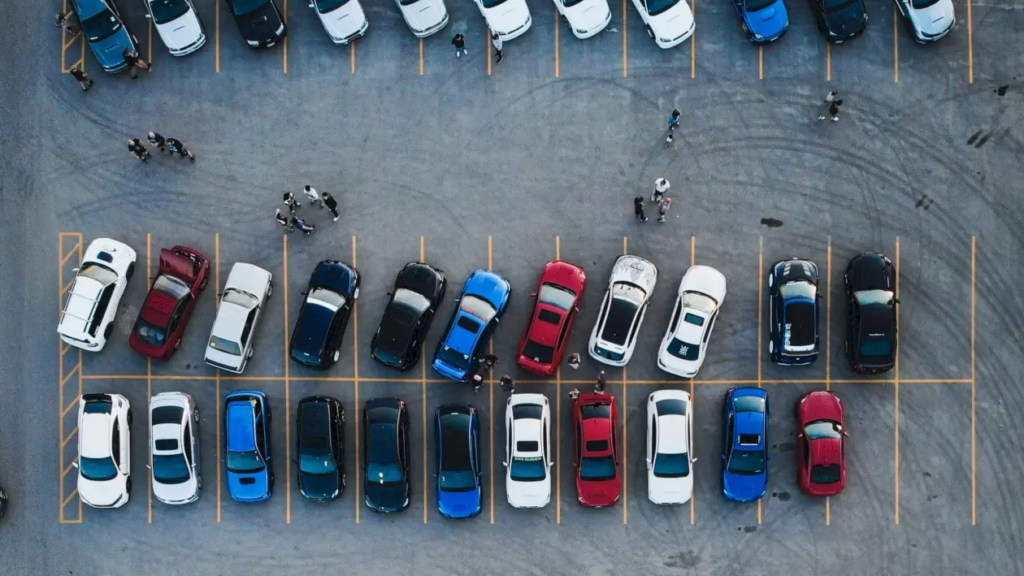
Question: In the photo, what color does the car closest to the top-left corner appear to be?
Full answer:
The color of the car closest to the top-left corner is blue.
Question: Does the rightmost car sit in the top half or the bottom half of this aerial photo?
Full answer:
You can find the rightmost car in the top half.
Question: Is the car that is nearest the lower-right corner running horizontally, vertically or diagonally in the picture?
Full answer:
From this overhead view, the car that is nearest the lower-right corner appears to run vertically.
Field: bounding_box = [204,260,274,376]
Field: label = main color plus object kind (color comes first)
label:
white car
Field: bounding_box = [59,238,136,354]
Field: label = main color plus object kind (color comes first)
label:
white car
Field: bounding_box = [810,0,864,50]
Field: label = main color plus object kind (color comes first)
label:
black car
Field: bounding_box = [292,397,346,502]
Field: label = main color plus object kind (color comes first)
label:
black car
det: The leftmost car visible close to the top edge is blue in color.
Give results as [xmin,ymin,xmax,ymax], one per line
[55,0,131,79]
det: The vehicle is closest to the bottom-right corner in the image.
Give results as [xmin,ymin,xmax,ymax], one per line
[797,391,853,497]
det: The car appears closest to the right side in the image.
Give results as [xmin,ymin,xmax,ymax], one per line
[903,0,957,45]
